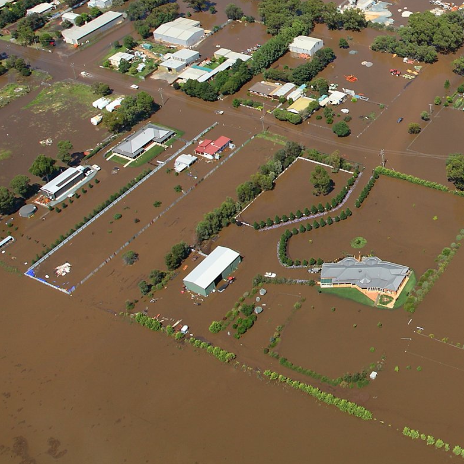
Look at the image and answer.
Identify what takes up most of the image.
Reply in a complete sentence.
For the most part, this view shows water.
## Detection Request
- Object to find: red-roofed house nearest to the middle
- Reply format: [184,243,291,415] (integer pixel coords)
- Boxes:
[194,134,231,159]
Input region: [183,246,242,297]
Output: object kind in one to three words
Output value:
barn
